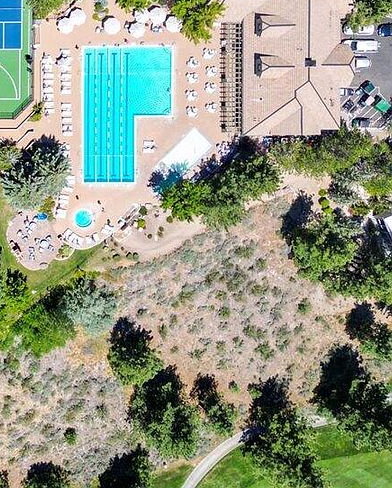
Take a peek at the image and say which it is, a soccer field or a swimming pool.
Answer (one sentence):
Visible in the photo is a swimming pool.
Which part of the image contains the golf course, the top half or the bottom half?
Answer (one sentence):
The bottom half of the photo is where the golf course is.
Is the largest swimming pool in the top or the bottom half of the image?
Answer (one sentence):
Seen from above, the largest swimming pool lies in the top half of the view.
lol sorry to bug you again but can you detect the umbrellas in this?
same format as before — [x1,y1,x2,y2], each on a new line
[94,0,107,8]
[102,18,120,36]
[55,18,73,35]
[132,7,149,24]
[163,18,178,34]
[128,22,144,38]
[68,8,85,26]
[149,7,166,24]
